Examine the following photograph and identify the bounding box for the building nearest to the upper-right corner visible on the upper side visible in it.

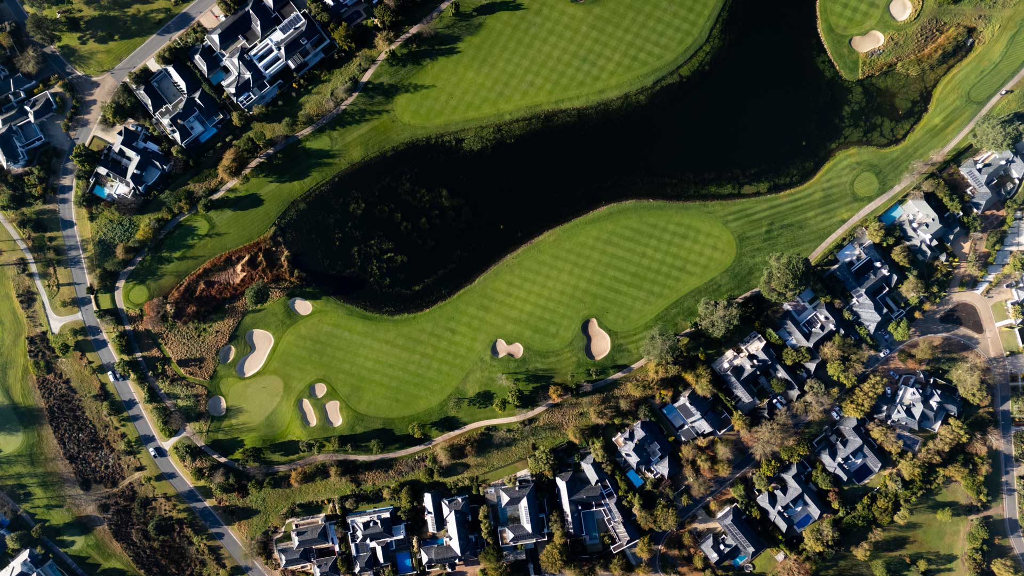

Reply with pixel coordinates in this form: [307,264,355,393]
[948,146,1024,218]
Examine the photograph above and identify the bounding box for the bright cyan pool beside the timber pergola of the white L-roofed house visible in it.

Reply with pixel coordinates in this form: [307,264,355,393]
[91,184,109,200]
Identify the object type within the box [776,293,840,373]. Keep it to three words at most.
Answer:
house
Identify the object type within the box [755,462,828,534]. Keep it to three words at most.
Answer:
house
